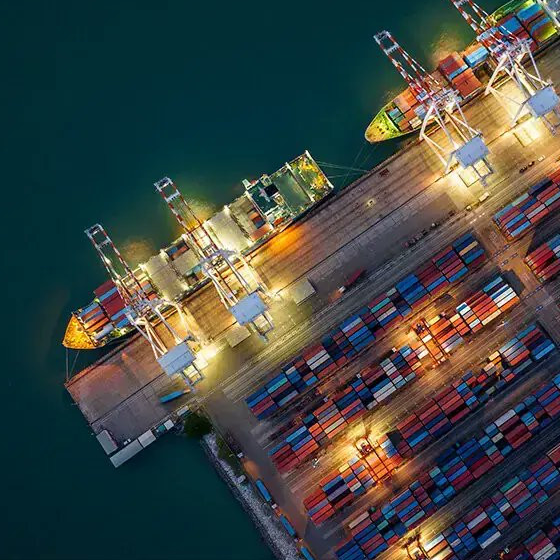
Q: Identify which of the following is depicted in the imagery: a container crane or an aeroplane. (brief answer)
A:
container crane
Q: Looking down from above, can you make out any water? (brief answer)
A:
Yes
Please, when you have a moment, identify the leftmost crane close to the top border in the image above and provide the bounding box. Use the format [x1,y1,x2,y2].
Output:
[372,26,501,182]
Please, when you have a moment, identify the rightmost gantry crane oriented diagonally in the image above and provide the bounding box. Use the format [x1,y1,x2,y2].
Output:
[450,0,560,132]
